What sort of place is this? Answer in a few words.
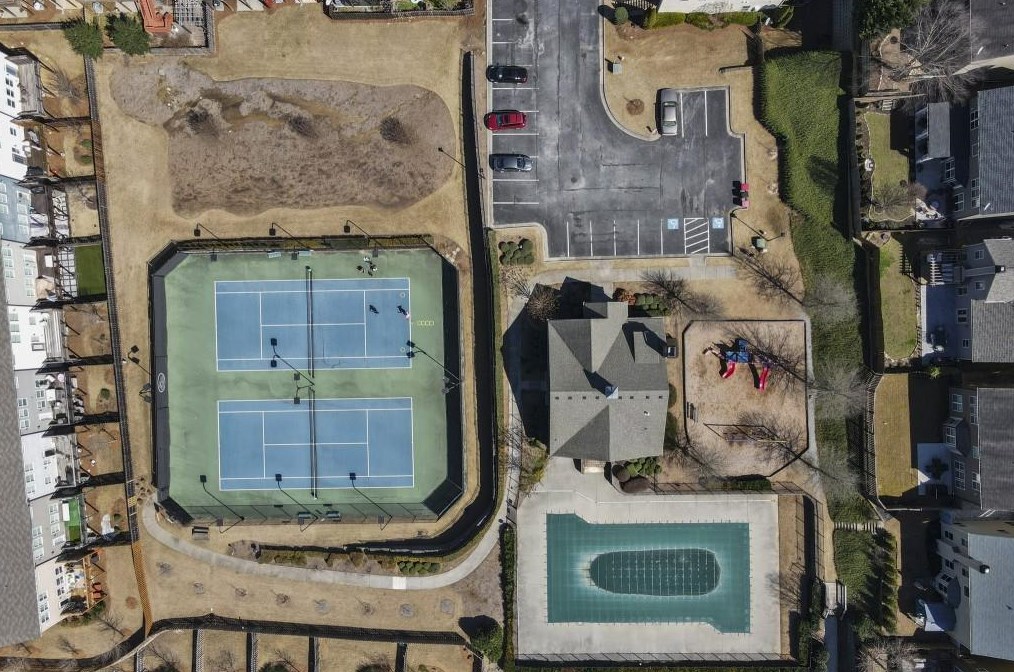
residential area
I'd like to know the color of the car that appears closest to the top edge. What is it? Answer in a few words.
black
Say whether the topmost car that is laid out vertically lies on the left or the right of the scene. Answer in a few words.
right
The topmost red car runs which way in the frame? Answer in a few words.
from left to right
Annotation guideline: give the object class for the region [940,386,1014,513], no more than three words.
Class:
house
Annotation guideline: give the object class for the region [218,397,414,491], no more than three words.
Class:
tennis court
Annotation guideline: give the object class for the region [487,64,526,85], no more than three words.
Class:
car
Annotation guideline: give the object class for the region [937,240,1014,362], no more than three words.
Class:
house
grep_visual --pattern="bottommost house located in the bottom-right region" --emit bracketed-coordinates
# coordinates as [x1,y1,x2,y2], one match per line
[933,497,1014,659]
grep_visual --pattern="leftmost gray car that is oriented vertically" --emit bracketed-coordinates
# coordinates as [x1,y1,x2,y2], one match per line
[659,91,679,136]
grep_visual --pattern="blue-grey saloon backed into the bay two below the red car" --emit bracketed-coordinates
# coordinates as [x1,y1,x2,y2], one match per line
[493,155,532,174]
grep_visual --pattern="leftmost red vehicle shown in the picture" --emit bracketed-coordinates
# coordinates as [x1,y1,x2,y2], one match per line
[485,111,526,132]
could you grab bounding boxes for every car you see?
[493,155,532,174]
[659,91,679,136]
[485,111,526,132]
[487,64,526,85]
